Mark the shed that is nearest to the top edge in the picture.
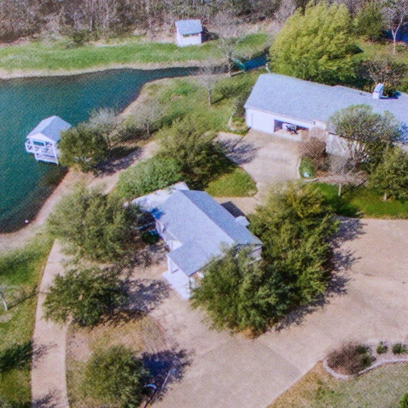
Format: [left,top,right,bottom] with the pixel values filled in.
[176,23,205,47]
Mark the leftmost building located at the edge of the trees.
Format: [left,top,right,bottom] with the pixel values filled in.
[26,121,72,171]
